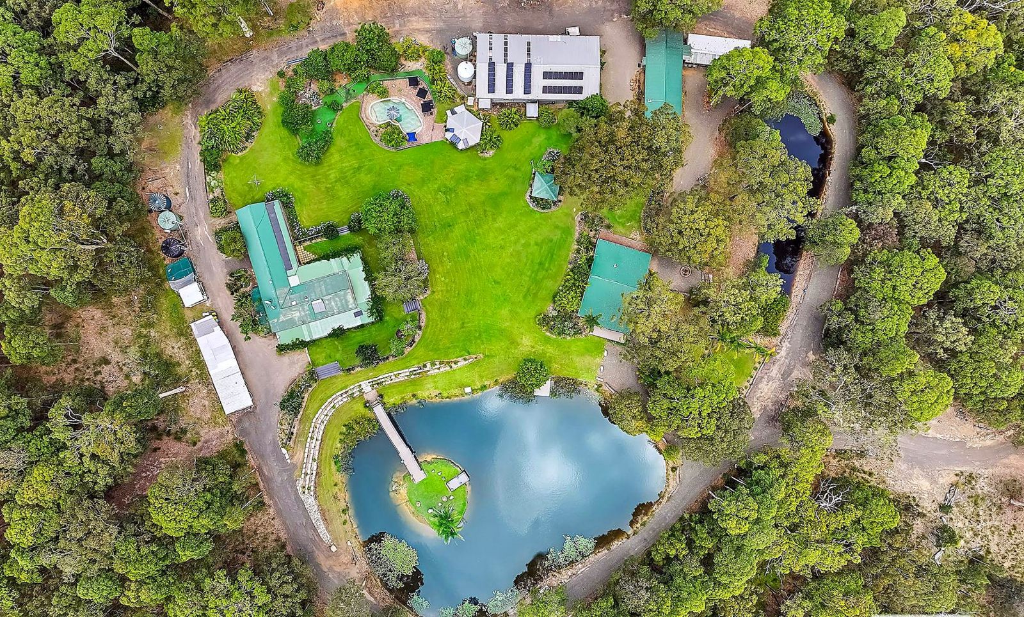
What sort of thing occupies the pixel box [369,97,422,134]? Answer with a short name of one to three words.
swimming pool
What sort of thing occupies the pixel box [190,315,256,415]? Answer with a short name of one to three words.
shed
